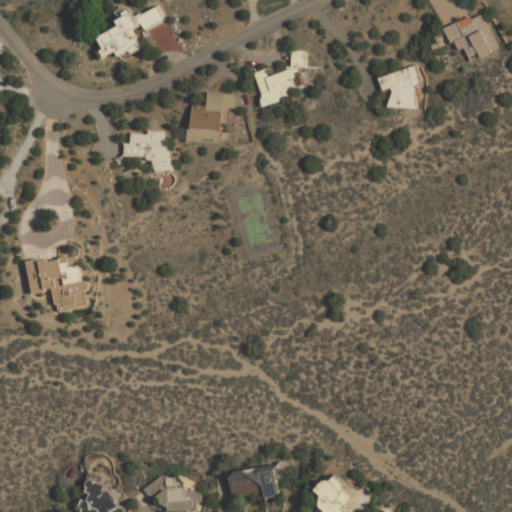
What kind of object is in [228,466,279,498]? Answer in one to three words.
house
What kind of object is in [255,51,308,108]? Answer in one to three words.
house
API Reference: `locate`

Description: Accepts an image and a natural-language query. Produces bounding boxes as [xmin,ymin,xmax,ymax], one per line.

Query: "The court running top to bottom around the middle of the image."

[232,182,282,258]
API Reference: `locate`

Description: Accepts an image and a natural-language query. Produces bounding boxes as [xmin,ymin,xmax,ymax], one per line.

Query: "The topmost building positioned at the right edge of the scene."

[443,15,500,62]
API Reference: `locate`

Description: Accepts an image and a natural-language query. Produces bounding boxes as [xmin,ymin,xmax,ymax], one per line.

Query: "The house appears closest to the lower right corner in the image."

[312,474,350,512]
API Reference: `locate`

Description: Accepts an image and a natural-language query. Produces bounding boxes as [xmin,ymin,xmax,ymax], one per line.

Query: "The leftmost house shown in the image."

[26,256,89,311]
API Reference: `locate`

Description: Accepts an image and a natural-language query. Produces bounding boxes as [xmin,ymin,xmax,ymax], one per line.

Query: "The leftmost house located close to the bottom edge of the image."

[79,480,128,512]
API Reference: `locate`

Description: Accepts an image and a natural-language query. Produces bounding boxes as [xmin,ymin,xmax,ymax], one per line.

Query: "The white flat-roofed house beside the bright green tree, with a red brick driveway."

[97,4,166,60]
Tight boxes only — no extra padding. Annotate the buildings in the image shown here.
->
[123,131,175,173]
[378,66,419,110]
[443,15,500,62]
[228,466,279,498]
[97,4,166,60]
[186,91,236,144]
[79,480,128,512]
[143,475,203,512]
[312,474,350,512]
[255,51,308,108]
[26,256,89,311]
